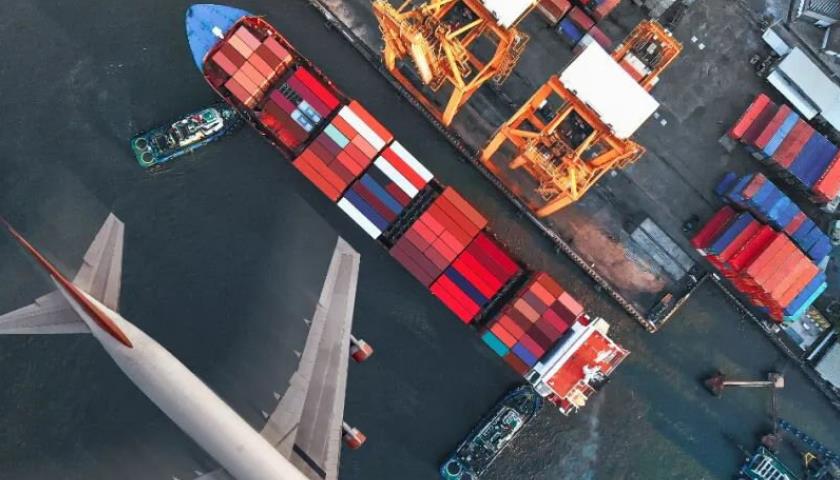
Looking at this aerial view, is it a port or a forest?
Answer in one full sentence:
The picture captures a port.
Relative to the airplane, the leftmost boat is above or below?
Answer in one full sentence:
The leftmost boat is above the airplane.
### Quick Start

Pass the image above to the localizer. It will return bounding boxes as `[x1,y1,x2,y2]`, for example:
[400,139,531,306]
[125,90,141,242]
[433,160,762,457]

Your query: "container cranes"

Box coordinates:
[362,0,543,130]
[475,11,687,217]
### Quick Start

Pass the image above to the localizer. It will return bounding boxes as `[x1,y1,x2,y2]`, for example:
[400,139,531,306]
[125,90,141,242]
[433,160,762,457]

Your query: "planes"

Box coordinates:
[0,210,377,480]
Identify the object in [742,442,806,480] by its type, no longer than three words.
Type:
ship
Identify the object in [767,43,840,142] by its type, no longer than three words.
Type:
building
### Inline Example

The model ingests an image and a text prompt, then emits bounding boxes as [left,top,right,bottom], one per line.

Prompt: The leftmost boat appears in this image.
[137,112,241,168]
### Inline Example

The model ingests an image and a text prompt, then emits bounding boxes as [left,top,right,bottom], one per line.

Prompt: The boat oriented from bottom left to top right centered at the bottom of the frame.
[439,393,530,480]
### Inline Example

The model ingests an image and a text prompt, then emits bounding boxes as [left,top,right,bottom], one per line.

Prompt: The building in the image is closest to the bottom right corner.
[810,336,840,391]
